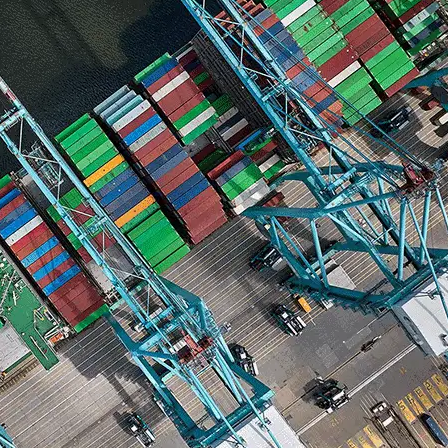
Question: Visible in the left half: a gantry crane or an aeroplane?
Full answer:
Looking in the left half, you will find a gantry crane.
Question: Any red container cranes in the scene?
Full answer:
No, there isn't any red container crane down there.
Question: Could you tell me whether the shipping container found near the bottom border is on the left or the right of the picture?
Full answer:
The shipping container found near the bottom border appears in the right half of the scene.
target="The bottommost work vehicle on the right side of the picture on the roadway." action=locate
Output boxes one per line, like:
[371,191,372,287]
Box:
[308,378,353,414]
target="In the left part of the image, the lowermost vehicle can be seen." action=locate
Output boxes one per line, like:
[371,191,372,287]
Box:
[125,408,159,448]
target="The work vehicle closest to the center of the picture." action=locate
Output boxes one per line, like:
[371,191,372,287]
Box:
[247,244,285,275]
